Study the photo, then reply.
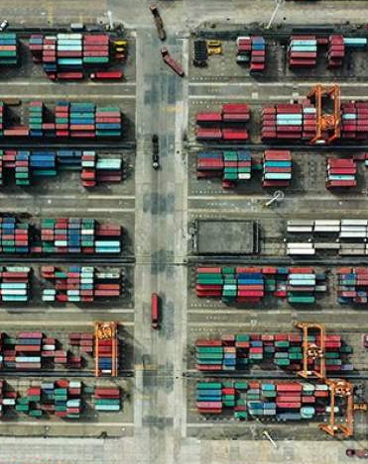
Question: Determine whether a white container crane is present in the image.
No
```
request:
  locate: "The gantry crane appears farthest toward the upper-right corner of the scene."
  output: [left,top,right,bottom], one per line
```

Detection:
[301,85,340,148]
